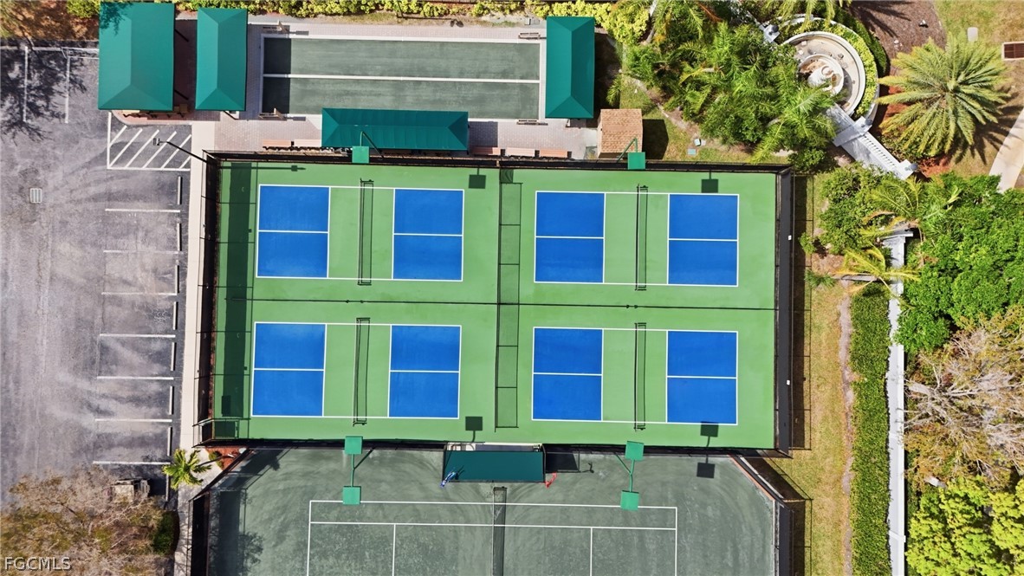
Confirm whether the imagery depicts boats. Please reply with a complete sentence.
No, this view has no boat in it.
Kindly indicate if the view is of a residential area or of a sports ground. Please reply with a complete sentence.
This looks like a sports ground.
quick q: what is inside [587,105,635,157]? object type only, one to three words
shed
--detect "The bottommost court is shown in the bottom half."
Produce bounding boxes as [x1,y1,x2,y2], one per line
[208,449,775,576]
